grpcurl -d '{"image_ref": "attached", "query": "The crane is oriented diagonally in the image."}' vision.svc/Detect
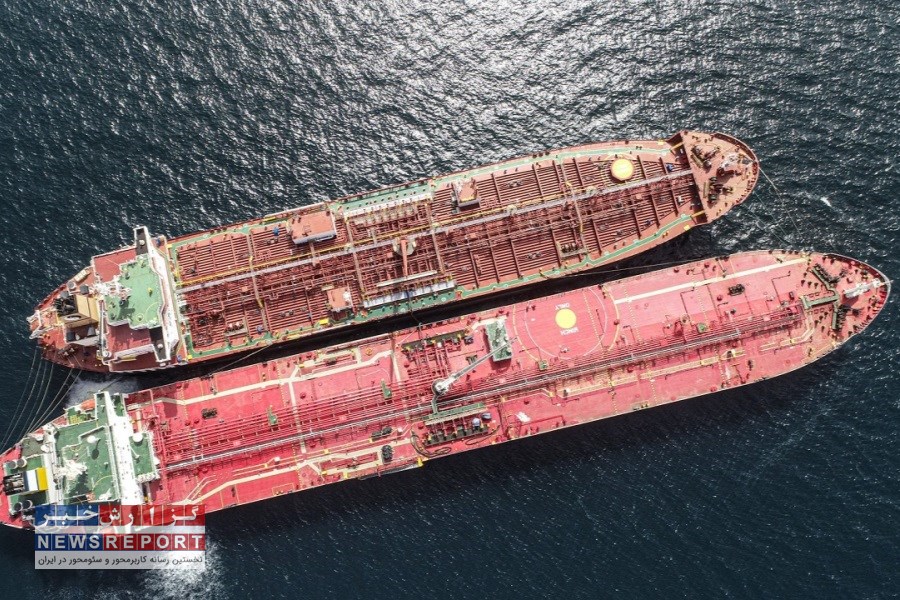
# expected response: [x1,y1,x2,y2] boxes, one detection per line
[430,335,519,398]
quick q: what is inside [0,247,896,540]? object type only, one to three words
ship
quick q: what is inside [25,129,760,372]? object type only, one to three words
ship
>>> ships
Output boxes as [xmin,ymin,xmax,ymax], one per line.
[0,247,896,540]
[25,129,760,372]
